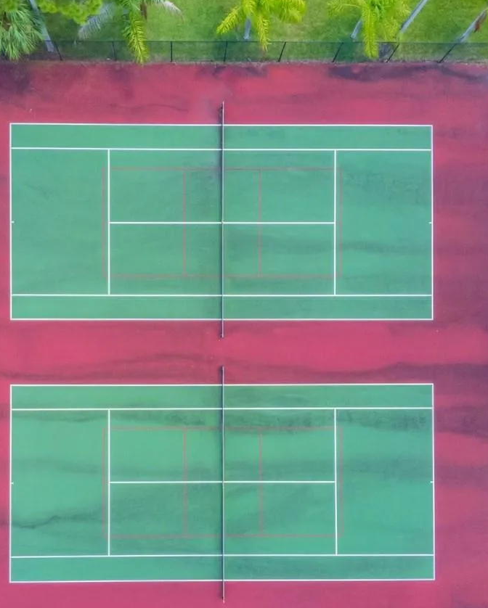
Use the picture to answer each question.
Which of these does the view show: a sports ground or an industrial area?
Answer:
sports ground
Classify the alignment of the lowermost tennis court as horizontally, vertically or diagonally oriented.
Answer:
horizontally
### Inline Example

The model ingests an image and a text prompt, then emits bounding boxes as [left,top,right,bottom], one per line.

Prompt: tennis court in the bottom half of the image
[9,385,435,582]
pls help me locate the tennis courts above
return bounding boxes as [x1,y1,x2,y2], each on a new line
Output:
[9,124,434,320]
[9,385,435,582]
